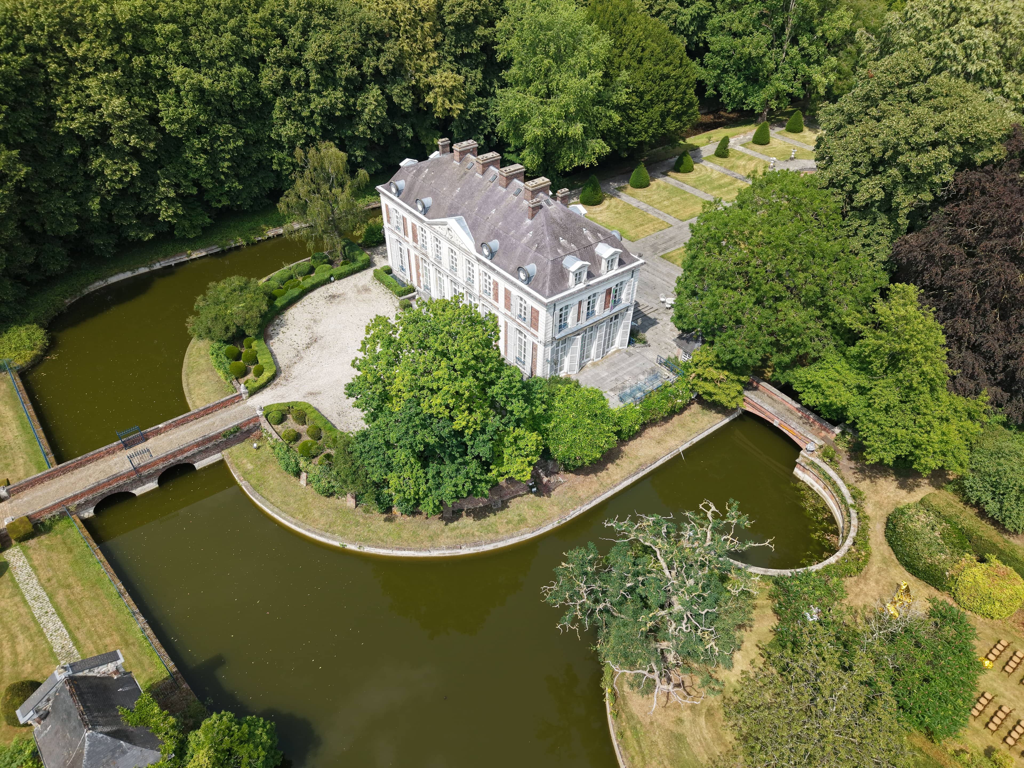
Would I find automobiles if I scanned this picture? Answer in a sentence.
No, the scene contains no automobile.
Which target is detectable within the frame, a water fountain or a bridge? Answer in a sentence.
Visible in the photo is a bridge.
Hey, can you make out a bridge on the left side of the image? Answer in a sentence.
Yes, a bridge shows up on the left side of the image.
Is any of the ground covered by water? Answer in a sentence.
Yes, some water is visible.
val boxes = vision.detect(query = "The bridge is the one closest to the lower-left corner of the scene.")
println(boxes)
[2,392,260,524]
